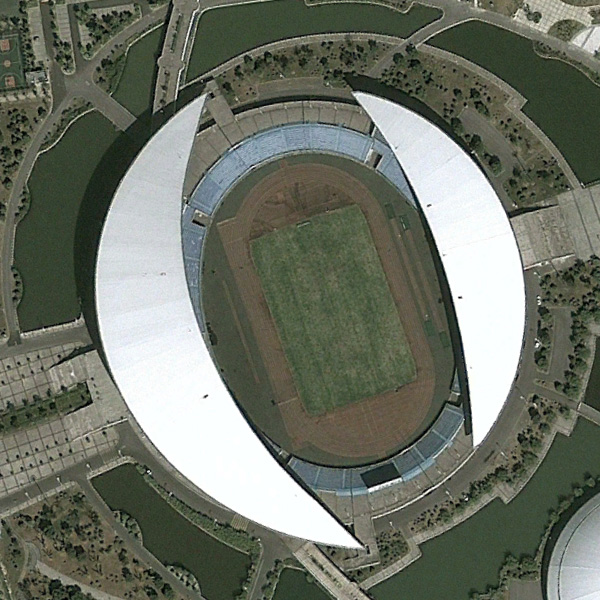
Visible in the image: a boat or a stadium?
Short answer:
stadium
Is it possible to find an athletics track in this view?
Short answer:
Yes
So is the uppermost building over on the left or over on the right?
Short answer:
right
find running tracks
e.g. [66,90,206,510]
[203,152,456,467]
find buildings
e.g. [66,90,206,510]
[547,493,600,600]
[569,22,600,57]
[26,71,50,84]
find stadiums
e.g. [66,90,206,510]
[49,80,574,572]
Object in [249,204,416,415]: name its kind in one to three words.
soccer field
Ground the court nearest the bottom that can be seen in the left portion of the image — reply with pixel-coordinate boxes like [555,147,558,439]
[0,32,25,91]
